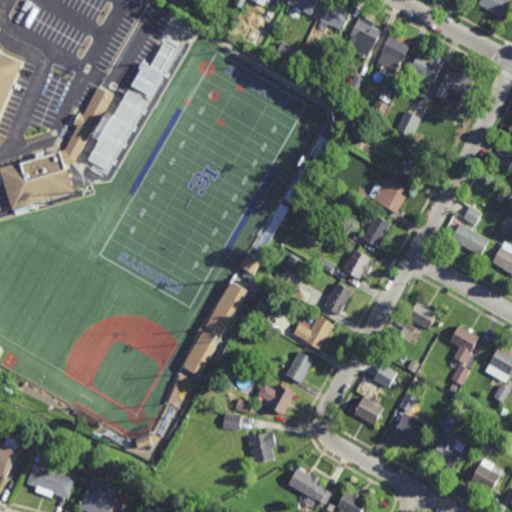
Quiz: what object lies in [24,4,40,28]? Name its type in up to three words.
vehicle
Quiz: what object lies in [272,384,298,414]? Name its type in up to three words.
house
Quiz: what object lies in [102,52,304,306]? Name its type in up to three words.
sports field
